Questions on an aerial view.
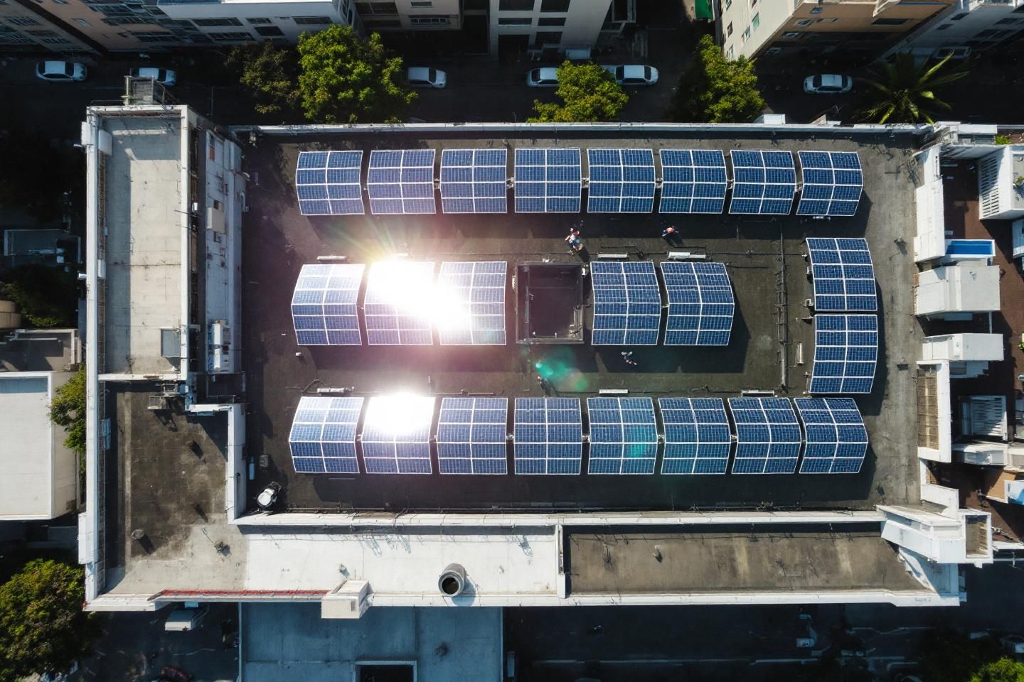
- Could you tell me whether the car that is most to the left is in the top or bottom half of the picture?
top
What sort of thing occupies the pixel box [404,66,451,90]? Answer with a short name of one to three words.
car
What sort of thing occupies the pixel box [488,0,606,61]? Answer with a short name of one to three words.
building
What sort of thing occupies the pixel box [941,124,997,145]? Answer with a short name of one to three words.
building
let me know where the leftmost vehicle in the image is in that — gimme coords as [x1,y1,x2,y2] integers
[38,58,90,84]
